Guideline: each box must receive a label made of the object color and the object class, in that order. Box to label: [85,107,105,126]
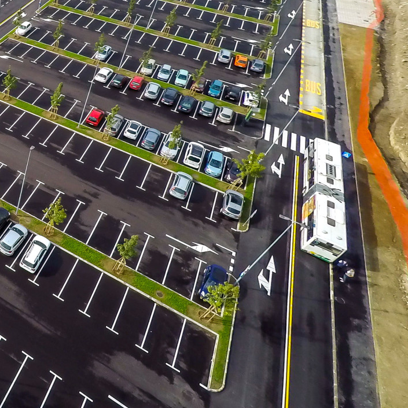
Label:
red car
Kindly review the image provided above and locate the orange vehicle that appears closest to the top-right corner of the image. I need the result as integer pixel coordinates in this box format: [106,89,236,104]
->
[232,55,250,69]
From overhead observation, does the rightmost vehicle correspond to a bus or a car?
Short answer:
bus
